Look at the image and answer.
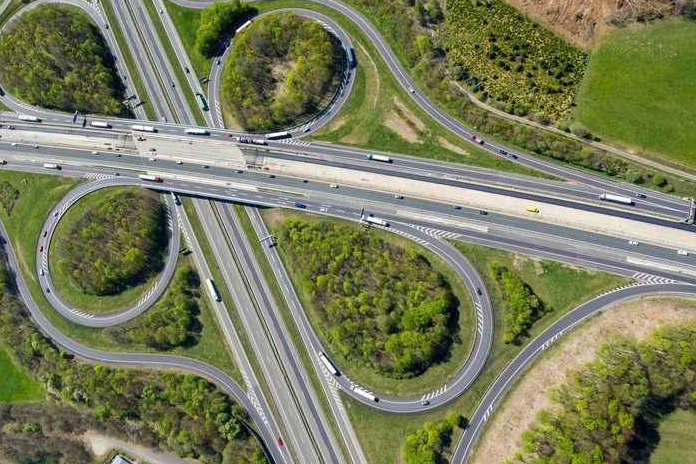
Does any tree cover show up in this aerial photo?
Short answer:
Yes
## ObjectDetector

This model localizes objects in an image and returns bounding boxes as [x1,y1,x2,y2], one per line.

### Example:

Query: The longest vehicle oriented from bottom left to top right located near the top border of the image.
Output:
[234,19,256,34]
